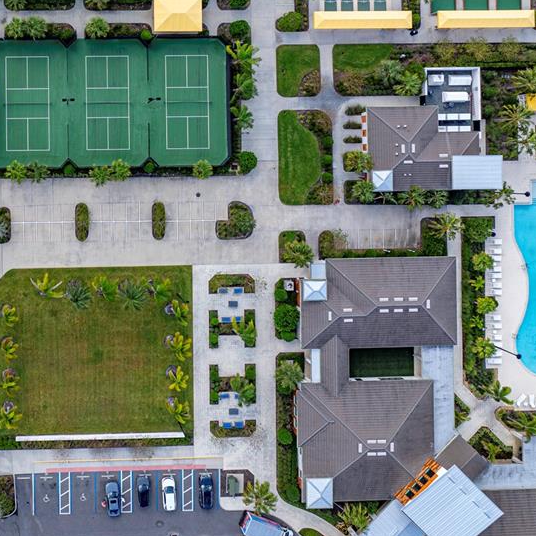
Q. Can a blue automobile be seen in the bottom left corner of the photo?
Yes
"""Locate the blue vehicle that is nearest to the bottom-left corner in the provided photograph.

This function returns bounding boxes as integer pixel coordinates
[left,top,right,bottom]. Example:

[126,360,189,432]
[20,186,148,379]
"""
[99,478,126,514]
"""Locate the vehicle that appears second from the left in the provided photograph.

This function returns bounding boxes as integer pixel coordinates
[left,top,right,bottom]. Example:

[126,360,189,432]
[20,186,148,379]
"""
[136,473,152,506]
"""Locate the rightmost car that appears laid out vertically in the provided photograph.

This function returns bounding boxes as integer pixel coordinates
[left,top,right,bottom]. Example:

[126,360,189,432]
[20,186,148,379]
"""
[198,470,215,508]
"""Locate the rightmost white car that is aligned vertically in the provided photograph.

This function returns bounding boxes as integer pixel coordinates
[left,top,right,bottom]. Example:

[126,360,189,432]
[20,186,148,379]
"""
[162,473,178,509]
